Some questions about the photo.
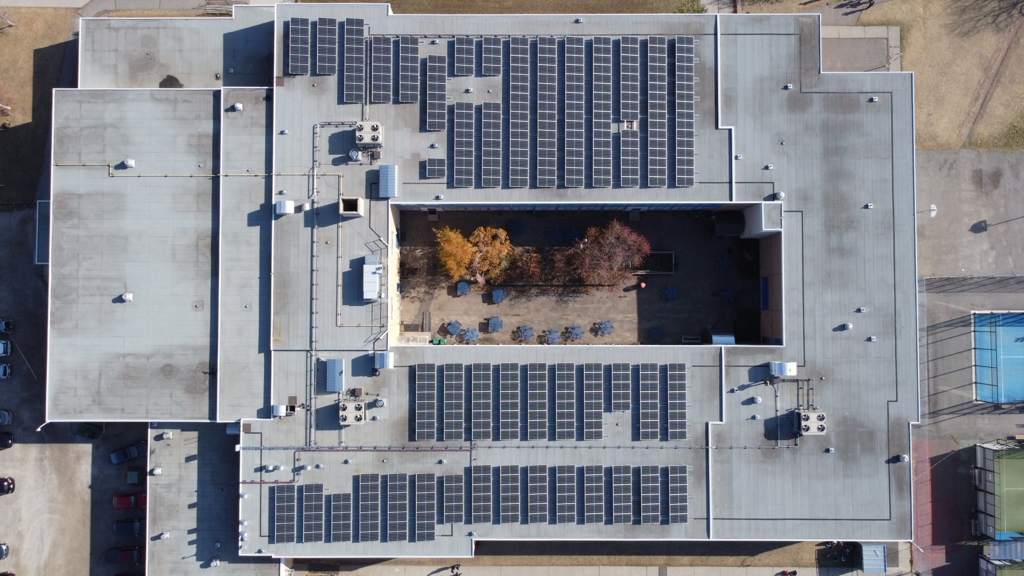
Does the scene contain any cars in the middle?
No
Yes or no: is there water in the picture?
No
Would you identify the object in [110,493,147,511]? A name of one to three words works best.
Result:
car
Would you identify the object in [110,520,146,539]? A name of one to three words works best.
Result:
car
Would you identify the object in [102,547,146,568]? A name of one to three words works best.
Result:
truck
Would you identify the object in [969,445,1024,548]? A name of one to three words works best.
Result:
sports court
